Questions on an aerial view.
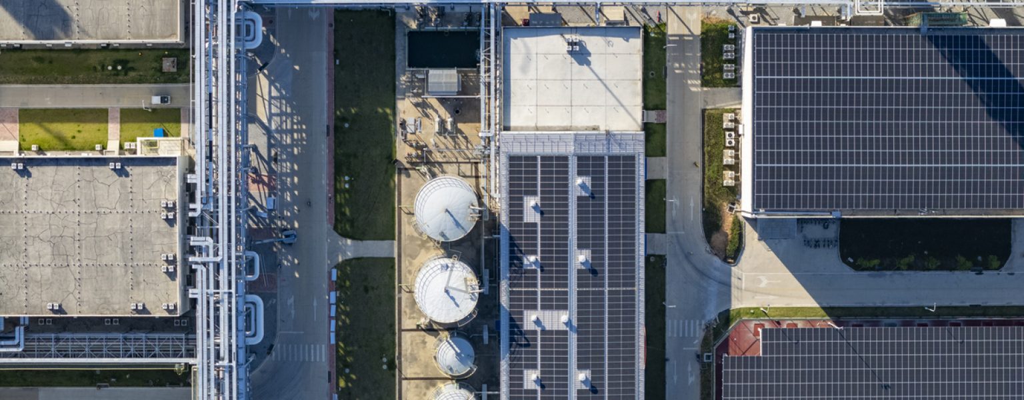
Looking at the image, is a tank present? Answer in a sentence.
Yes, the frame does contain a tank.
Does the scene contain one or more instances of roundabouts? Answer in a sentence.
No, there appears to be no roundabout in this shot.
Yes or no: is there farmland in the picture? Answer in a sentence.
No, the picture contains no farmland.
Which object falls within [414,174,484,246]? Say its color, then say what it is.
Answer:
white storage tank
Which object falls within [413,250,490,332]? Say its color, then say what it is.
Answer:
white storage tank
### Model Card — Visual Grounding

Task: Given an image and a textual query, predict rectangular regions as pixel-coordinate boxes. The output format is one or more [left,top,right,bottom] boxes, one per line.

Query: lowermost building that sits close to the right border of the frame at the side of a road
[735,25,1024,218]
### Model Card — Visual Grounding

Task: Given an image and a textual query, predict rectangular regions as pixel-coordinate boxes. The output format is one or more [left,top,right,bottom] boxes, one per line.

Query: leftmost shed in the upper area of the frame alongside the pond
[427,69,465,96]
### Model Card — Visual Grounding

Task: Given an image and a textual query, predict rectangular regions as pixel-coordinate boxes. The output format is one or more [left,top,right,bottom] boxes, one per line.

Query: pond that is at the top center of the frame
[407,28,482,69]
